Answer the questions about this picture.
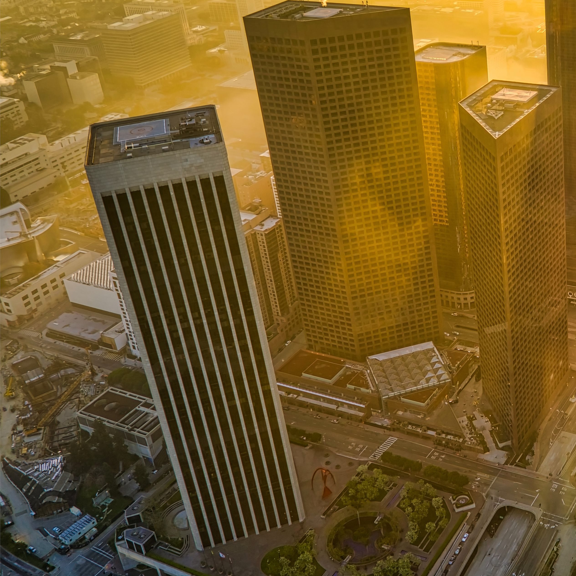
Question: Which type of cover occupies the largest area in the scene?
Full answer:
What you mostly see from above here is buildings.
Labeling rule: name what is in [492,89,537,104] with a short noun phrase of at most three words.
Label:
helipad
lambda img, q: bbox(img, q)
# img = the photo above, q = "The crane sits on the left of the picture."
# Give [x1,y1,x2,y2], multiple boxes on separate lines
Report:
[24,361,100,438]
